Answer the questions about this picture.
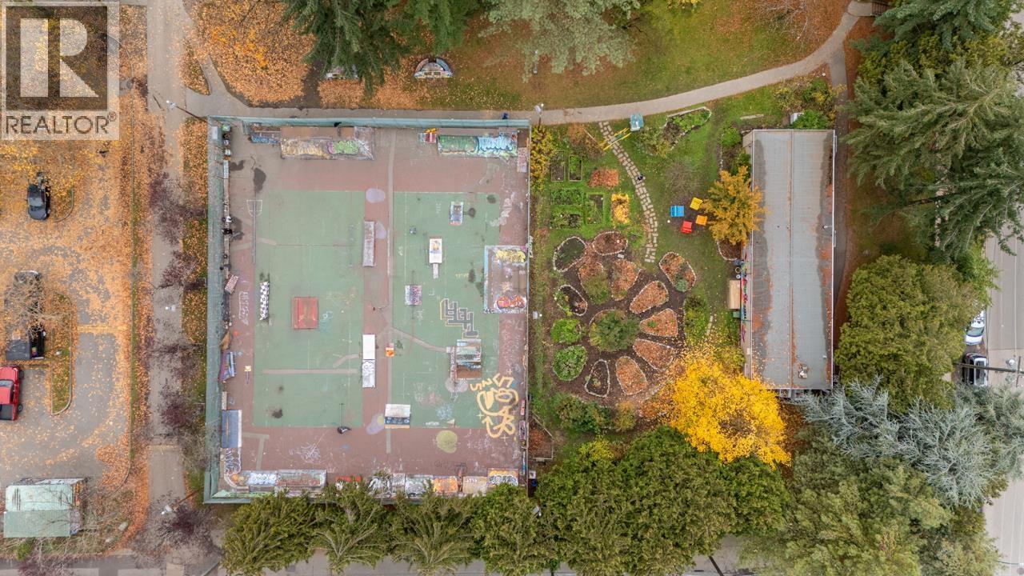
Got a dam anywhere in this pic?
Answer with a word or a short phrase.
No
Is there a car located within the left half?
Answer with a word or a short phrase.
Yes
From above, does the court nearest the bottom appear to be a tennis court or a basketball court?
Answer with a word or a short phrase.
tennis court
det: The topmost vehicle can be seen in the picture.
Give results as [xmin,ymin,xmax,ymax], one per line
[21,173,49,220]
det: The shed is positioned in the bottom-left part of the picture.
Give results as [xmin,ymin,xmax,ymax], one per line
[2,481,85,538]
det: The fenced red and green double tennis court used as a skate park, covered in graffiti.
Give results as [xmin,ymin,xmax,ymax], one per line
[222,127,528,490]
